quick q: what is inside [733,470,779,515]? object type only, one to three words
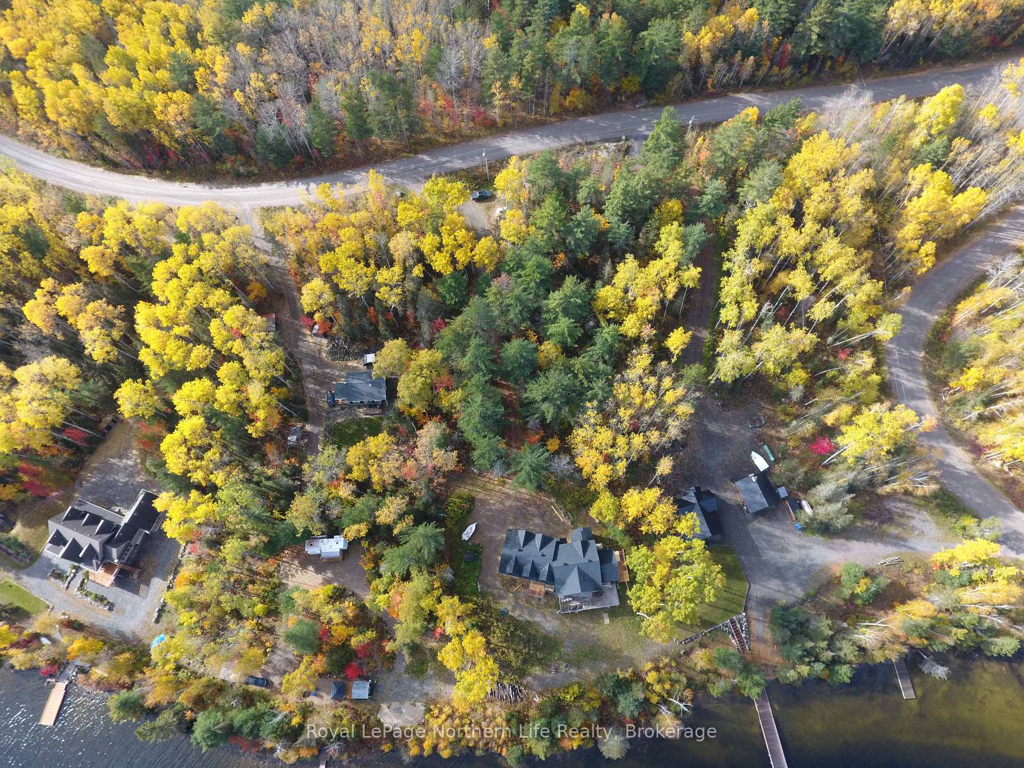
building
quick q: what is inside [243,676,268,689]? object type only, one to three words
vehicle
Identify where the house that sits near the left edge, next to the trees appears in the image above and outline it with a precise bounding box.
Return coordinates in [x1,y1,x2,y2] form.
[42,482,173,587]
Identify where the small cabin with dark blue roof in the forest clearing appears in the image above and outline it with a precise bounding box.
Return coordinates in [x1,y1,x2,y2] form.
[334,370,388,415]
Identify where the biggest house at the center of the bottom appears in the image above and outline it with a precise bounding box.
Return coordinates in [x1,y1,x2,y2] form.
[498,521,631,614]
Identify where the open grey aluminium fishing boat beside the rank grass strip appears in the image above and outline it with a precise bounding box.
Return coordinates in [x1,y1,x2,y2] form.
[459,522,476,543]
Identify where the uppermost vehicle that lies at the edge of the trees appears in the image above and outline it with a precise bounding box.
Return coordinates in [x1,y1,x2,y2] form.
[470,189,492,201]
